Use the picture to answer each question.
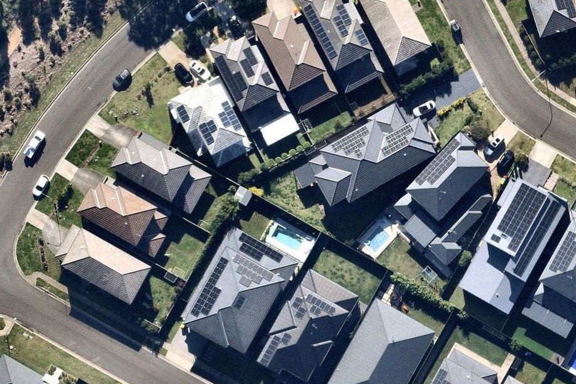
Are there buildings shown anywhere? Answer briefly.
Yes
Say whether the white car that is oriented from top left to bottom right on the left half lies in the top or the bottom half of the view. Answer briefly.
top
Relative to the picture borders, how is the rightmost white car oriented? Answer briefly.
diagonally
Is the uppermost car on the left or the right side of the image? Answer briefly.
left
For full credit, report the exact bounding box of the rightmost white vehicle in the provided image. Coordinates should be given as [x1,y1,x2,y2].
[483,132,505,157]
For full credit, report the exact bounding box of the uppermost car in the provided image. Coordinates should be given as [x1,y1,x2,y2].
[184,0,209,22]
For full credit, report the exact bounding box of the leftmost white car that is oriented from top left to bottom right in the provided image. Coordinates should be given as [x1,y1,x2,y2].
[189,58,210,82]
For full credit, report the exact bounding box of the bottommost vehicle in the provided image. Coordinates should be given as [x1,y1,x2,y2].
[31,175,50,198]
